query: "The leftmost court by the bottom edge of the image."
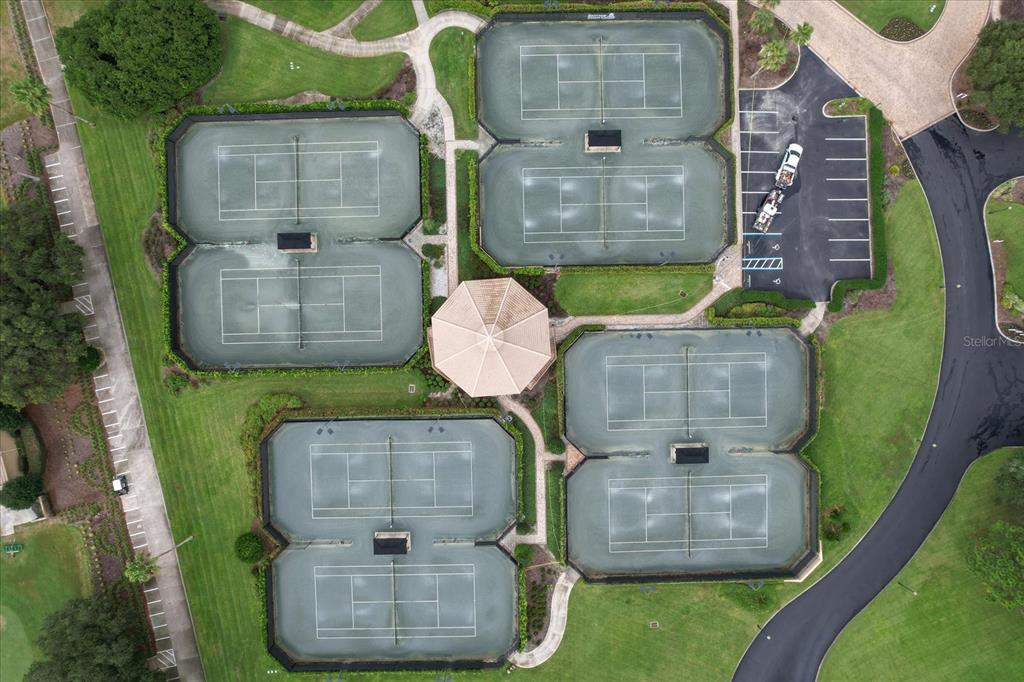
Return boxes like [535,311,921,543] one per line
[274,541,516,661]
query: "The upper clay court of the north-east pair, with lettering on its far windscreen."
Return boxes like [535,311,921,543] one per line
[478,20,725,142]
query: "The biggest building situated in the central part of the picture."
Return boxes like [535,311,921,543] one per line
[427,277,558,397]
